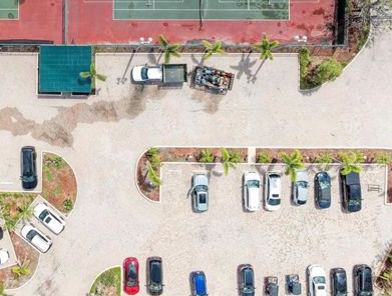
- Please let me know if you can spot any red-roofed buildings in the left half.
No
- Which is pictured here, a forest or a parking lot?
parking lot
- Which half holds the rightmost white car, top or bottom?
bottom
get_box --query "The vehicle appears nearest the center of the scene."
[186,173,208,212]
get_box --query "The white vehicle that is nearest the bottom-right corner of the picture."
[306,263,327,296]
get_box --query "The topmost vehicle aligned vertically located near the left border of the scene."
[19,147,38,191]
